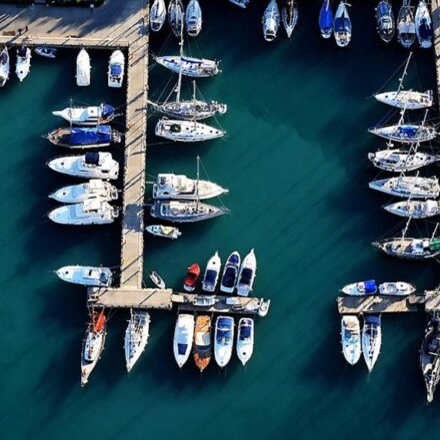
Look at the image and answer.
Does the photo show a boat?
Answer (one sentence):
Yes, the image includes a boat.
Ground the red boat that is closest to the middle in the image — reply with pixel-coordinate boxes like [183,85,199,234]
[185,262,200,295]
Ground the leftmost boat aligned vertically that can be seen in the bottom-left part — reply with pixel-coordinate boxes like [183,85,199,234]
[82,301,104,391]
